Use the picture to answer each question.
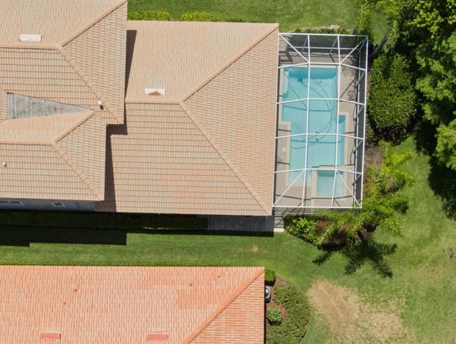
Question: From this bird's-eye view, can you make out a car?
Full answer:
No, there's no car here.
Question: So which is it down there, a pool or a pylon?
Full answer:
There is a pool in the scene.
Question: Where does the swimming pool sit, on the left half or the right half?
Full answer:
It is on the right.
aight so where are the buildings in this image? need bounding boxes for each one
[0,264,266,344]
[0,0,281,219]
